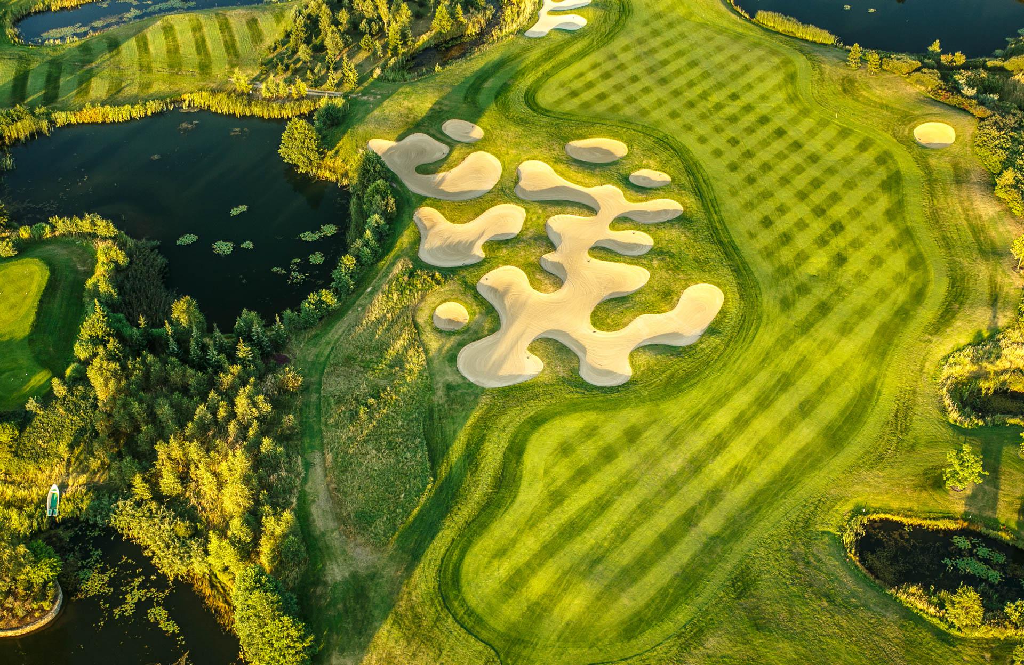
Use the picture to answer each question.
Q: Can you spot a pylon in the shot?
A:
No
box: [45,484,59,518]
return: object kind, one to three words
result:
boat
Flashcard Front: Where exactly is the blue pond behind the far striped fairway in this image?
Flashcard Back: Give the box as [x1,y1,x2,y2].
[14,0,285,45]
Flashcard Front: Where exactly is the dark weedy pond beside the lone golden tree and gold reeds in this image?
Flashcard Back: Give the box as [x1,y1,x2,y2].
[855,518,1024,619]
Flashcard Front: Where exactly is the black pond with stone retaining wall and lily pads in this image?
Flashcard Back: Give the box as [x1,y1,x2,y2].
[0,524,239,665]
